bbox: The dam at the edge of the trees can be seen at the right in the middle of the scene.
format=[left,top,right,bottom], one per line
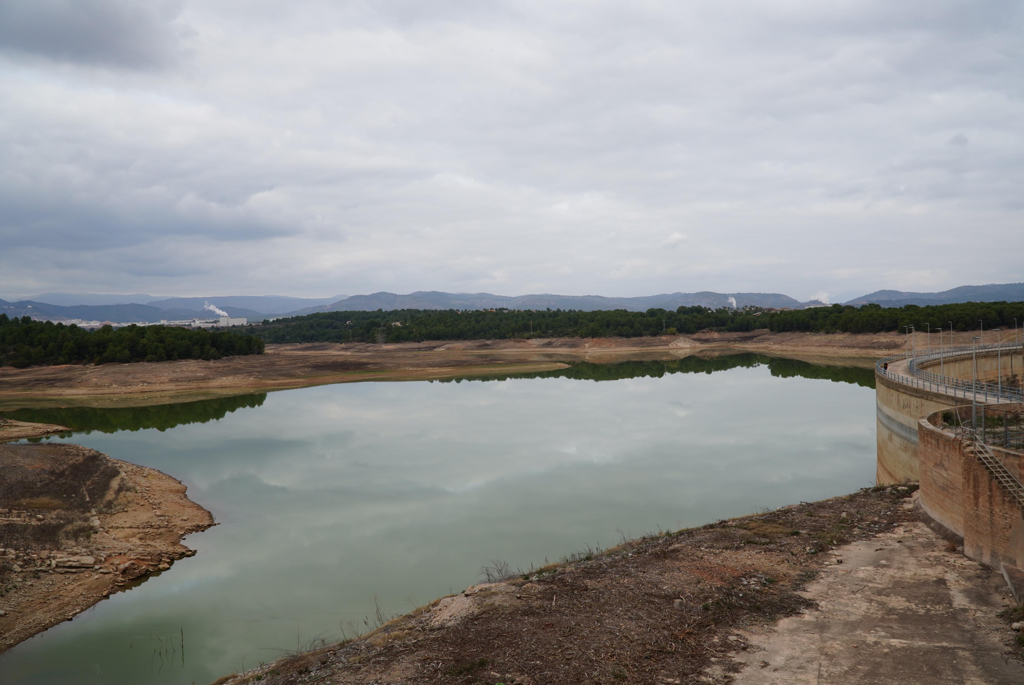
[874,346,1024,482]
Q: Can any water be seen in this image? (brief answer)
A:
Yes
